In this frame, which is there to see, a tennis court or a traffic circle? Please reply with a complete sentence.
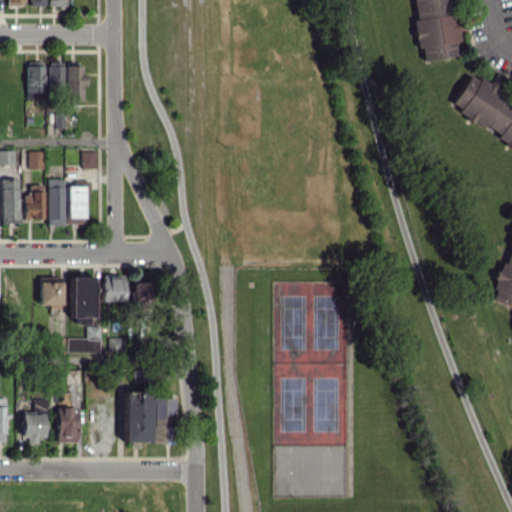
Looking from above, you can make out a tennis court.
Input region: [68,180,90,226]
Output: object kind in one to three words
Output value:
building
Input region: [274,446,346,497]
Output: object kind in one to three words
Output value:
sports court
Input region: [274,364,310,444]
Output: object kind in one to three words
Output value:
tennis court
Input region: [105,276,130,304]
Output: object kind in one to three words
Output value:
house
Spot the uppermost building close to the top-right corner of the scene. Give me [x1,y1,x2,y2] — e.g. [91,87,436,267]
[416,0,464,62]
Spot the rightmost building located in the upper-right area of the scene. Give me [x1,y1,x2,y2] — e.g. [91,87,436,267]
[454,76,512,146]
